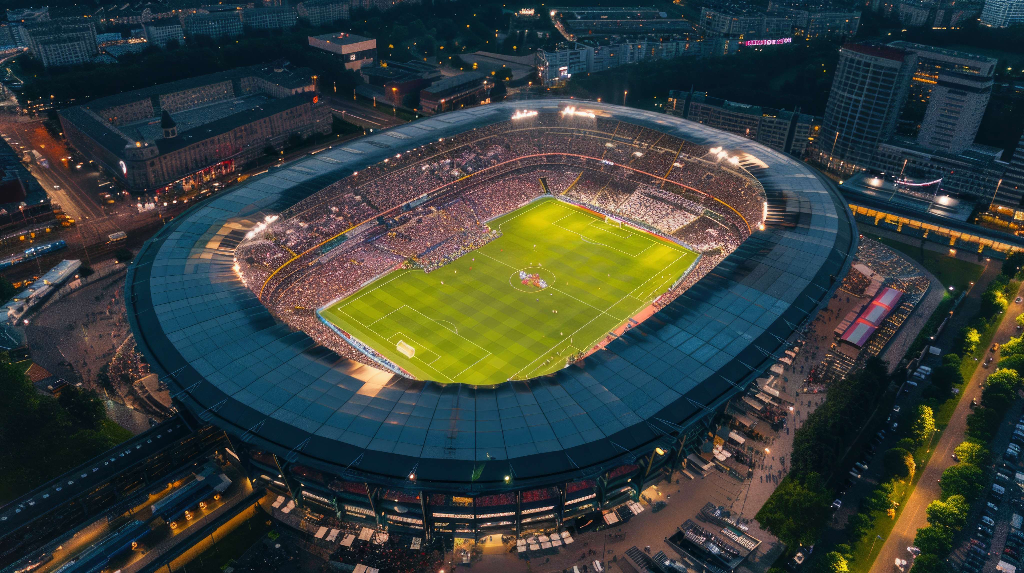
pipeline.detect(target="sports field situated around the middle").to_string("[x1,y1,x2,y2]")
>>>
[318,195,707,384]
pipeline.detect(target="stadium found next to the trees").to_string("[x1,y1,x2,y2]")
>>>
[119,97,860,573]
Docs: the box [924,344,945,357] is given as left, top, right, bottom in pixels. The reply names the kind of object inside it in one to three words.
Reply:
vehicle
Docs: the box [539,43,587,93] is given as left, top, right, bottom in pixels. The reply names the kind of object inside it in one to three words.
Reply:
building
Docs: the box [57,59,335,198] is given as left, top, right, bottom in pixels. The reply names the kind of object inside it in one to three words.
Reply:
building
